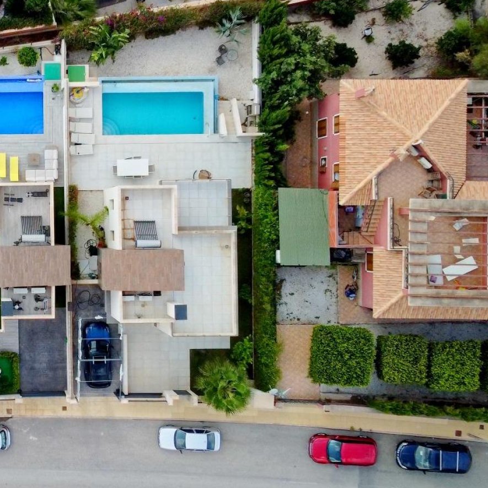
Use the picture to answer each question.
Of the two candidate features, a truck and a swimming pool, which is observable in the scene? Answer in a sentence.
It is a swimming pool that can be seen here.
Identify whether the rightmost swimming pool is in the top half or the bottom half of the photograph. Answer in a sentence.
The rightmost swimming pool sits in the top half of the picture.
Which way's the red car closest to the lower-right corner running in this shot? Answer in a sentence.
In this picture, the red car closest to the lower-right corner is oriented from left to right.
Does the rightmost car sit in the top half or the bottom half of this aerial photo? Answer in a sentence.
You can find the rightmost car in the bottom half.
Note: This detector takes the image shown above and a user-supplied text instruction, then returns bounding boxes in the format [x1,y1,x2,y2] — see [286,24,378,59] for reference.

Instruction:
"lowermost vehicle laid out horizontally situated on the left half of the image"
[155,424,221,454]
